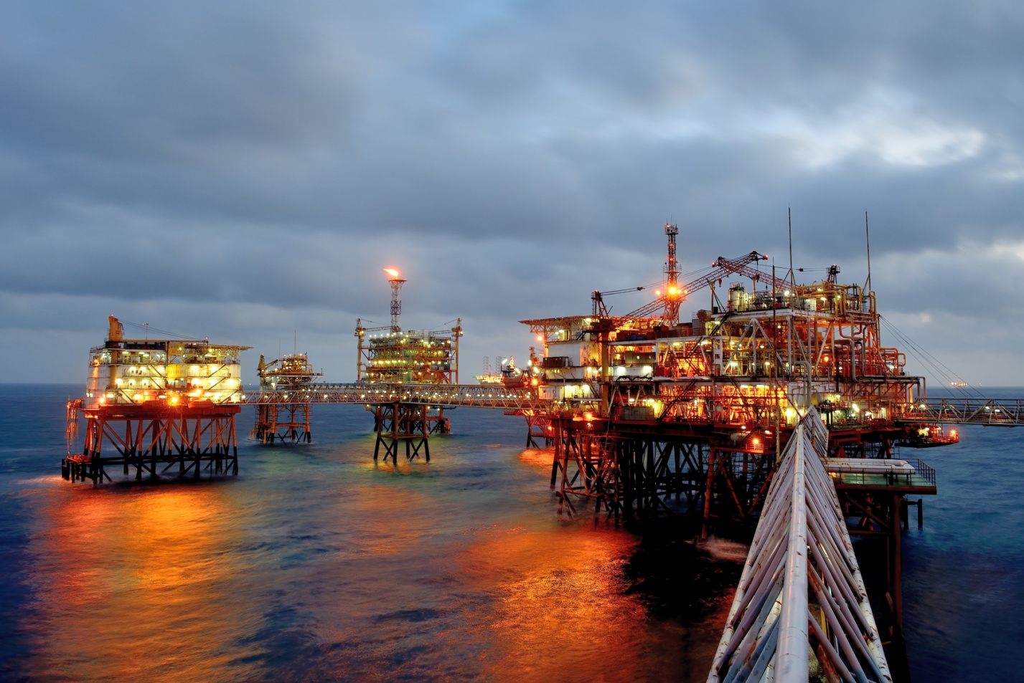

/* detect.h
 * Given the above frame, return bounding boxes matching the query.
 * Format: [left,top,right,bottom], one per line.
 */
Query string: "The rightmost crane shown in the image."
[711,258,839,338]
